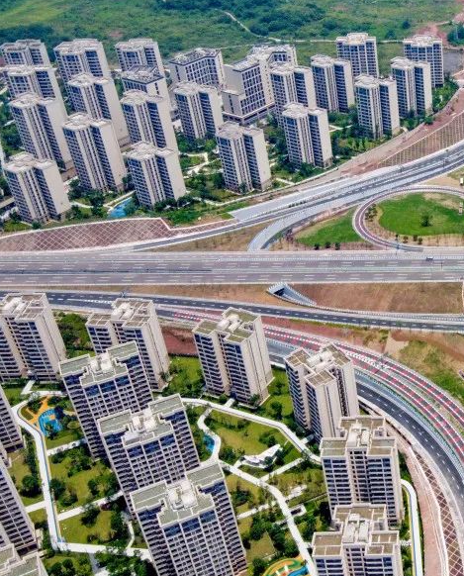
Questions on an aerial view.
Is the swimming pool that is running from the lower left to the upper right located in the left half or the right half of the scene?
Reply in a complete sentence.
You can find the swimming pool that is running from the lower left to the upper right on the left side of the picture.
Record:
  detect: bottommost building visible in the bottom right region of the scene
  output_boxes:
[312,512,406,576]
